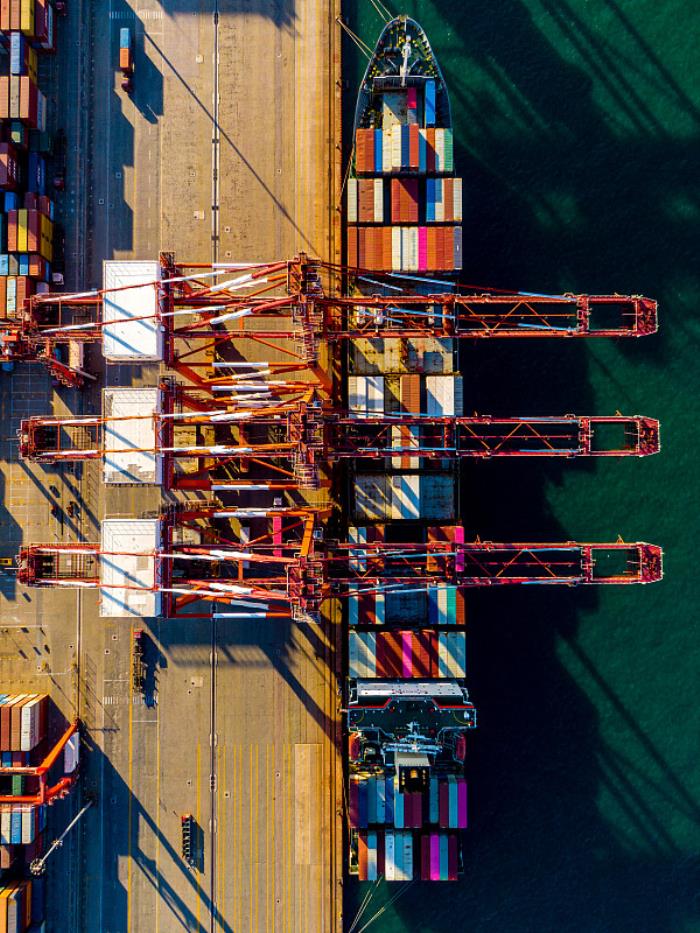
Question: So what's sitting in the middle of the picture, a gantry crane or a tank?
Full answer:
What appears in the middle of the picture is a gantry crane.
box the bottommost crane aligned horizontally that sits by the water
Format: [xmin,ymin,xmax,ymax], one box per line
[4,497,665,628]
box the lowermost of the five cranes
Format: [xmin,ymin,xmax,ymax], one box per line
[0,730,78,808]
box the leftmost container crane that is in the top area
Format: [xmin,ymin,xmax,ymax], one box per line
[0,325,86,380]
